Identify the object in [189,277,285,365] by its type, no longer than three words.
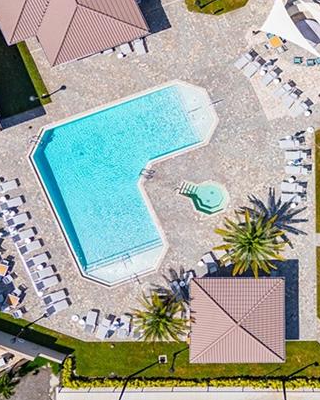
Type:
building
